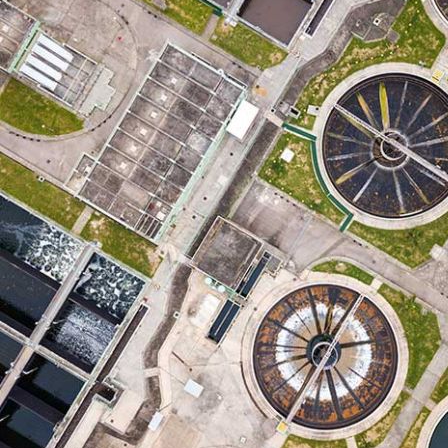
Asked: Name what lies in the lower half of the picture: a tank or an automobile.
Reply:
tank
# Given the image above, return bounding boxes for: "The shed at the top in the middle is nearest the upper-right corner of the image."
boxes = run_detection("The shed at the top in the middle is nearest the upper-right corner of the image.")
[226,100,260,140]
